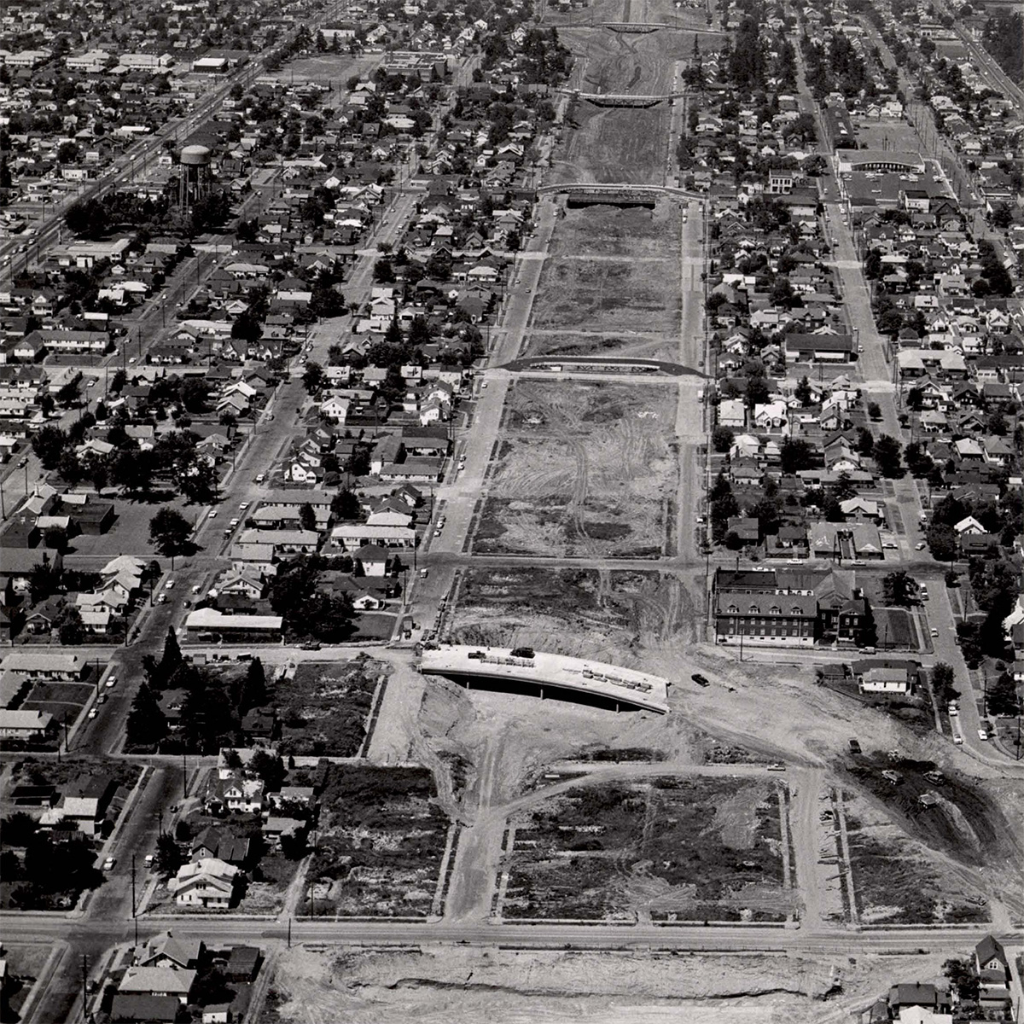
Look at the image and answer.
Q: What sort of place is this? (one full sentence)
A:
The area seen from above is a residential area.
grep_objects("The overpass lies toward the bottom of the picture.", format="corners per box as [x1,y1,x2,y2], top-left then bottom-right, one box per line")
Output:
[420,643,671,726]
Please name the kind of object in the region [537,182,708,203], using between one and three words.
overpass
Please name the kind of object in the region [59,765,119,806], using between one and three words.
house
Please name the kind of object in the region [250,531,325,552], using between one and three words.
building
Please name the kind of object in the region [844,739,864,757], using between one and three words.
vehicle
